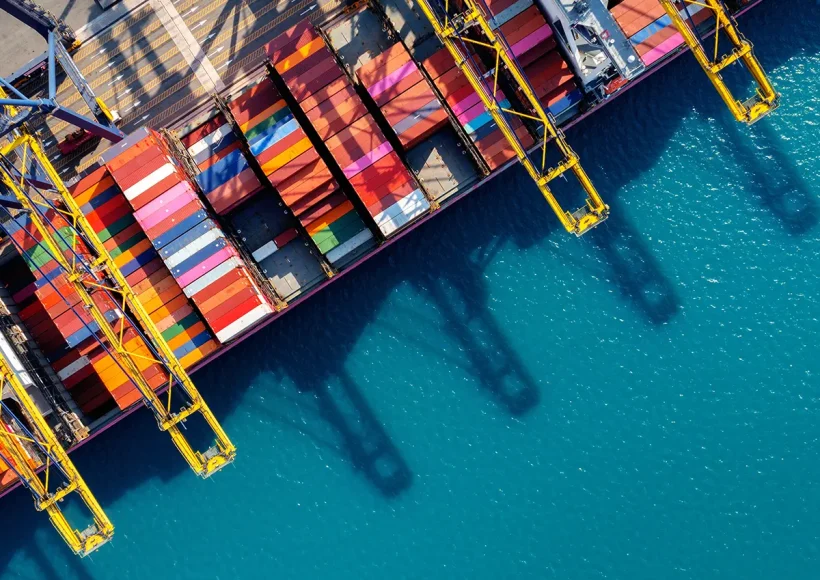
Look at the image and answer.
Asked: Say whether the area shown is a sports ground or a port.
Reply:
port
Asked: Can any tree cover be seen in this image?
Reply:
No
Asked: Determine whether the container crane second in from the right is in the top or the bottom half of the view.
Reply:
top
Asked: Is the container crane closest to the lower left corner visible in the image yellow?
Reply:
Yes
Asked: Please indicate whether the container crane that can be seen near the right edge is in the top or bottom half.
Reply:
top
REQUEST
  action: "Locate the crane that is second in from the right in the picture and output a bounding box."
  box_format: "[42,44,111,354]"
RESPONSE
[420,0,612,236]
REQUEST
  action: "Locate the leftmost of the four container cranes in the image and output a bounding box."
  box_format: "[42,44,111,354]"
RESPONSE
[0,348,114,560]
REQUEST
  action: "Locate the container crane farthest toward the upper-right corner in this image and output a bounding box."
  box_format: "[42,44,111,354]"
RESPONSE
[662,0,786,125]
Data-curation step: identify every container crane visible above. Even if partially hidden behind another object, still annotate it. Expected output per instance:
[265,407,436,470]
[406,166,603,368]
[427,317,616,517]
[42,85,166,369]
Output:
[420,0,612,236]
[0,348,114,560]
[662,0,786,125]
[0,0,235,480]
